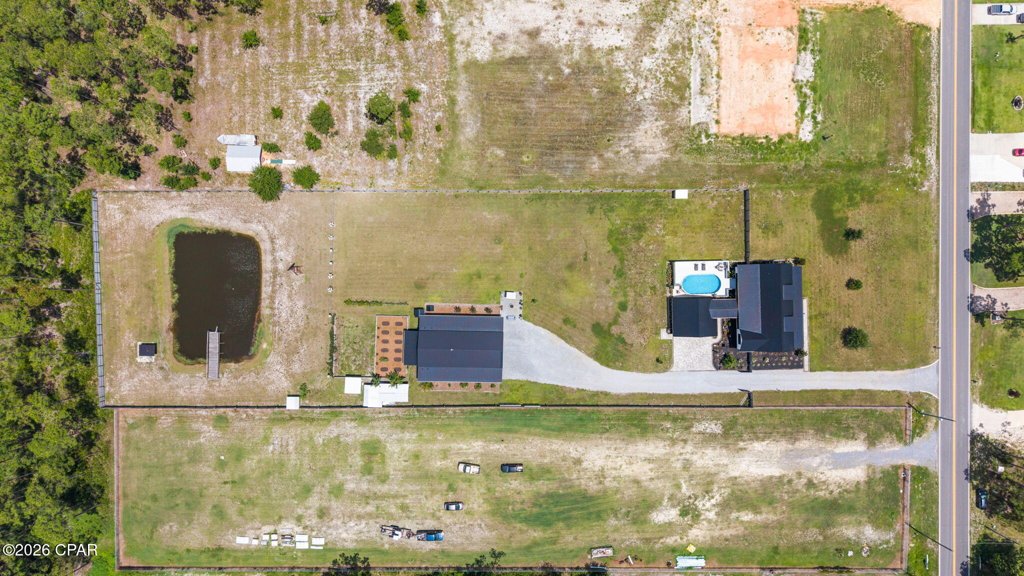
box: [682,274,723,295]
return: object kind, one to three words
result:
swimming pool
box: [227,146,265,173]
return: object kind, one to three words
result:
shed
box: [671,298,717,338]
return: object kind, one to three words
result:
building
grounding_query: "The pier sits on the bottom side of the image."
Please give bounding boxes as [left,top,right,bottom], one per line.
[205,327,225,377]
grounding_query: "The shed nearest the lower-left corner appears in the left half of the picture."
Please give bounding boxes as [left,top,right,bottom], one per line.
[138,342,159,361]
